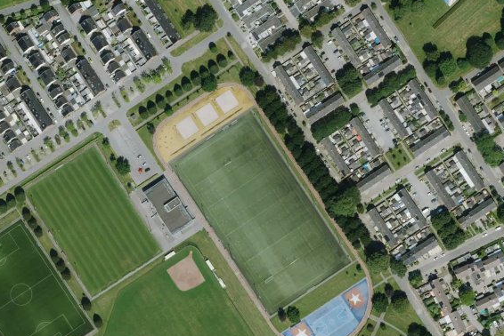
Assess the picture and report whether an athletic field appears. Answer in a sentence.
Yes, there is an athletic field in the image.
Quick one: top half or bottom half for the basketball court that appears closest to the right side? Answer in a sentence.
Seen from above, the basketball court that appears closest to the right side lies in the bottom half of the view.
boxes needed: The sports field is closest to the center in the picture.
[171,109,353,315]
